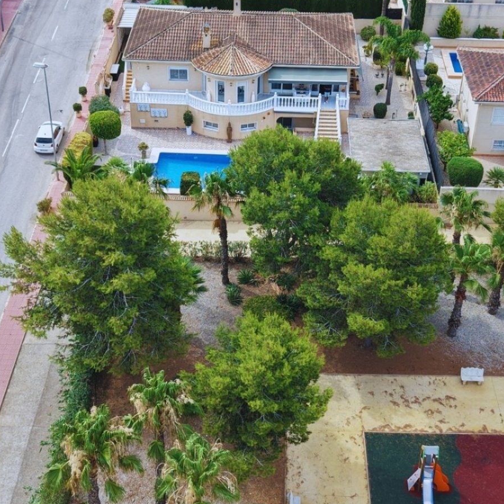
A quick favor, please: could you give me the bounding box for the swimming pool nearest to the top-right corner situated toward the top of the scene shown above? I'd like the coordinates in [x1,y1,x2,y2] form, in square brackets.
[442,45,472,76]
